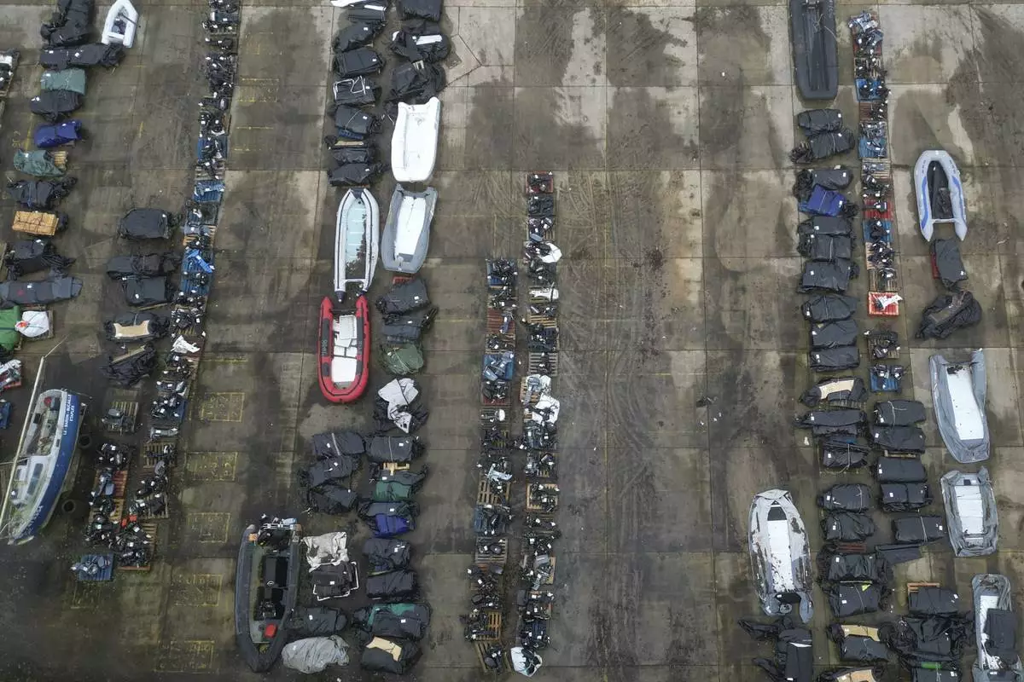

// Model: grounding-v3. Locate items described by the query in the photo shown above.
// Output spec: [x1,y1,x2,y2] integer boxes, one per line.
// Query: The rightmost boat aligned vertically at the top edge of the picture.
[790,0,838,99]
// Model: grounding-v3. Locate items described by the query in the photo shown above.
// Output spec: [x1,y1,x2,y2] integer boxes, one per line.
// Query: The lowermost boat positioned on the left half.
[361,638,426,678]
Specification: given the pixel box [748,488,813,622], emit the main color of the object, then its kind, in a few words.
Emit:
white boat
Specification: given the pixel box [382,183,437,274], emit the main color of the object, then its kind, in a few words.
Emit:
white boat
